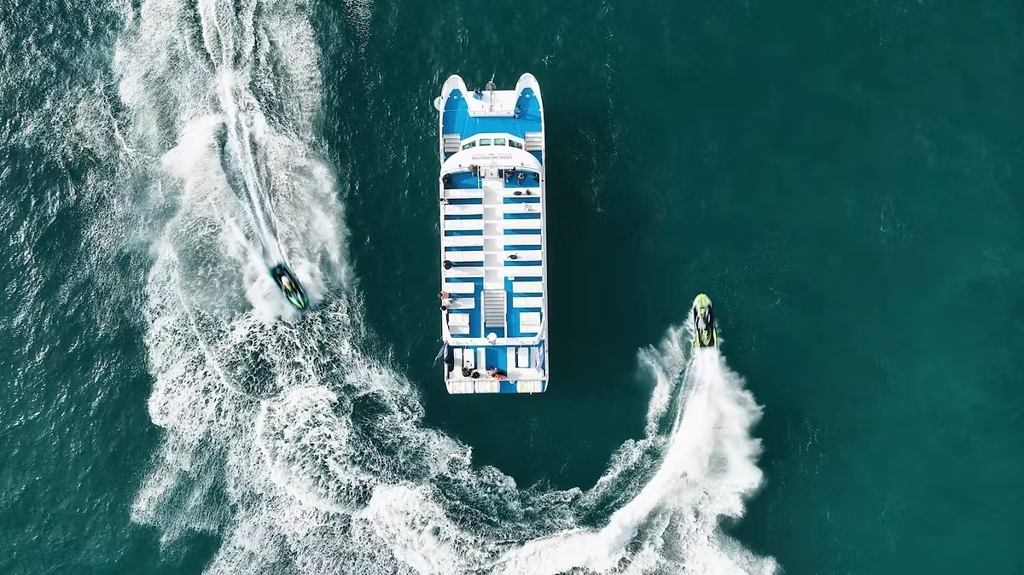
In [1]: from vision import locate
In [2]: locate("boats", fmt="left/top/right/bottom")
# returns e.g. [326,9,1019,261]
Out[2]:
[694,294,715,349]
[434,69,550,395]
[270,262,307,311]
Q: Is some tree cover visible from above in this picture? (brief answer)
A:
No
